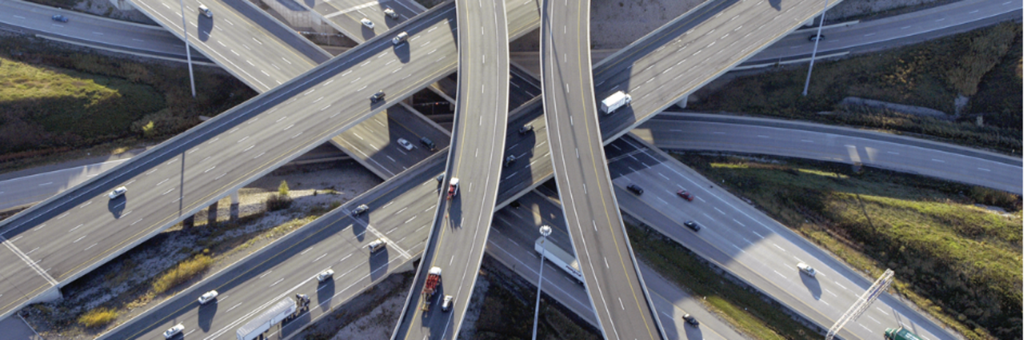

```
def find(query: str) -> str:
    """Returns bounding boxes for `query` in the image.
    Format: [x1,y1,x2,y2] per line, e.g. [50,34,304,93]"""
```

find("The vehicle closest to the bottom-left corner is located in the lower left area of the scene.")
[164,324,186,339]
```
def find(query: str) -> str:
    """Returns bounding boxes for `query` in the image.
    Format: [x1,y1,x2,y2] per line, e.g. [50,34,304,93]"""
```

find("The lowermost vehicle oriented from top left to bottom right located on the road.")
[680,314,700,329]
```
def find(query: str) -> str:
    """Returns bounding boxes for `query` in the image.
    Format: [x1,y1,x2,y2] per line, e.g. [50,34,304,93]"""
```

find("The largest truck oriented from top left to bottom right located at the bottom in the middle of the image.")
[533,238,584,288]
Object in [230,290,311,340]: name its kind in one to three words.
truck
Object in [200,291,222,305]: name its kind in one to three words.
car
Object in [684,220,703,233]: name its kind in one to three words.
vehicle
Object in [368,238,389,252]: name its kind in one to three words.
vehicle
